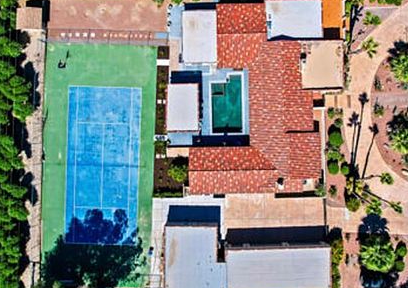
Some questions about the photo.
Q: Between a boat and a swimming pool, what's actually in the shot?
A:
swimming pool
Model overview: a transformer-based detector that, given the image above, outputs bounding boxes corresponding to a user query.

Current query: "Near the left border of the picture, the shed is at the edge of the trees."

[17,7,49,32]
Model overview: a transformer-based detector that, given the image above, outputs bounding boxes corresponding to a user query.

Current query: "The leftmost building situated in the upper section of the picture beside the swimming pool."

[167,83,199,133]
